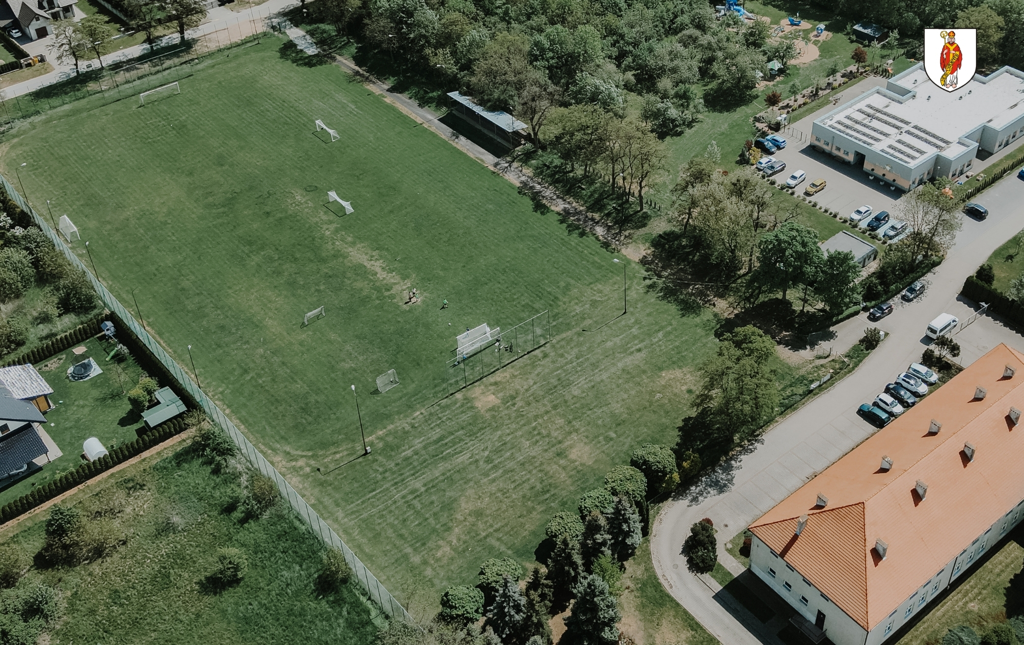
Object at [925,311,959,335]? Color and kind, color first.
white vehicle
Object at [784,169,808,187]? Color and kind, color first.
white car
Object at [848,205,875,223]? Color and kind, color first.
white car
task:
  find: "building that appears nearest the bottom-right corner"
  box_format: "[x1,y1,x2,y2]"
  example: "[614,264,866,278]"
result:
[749,341,1024,645]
